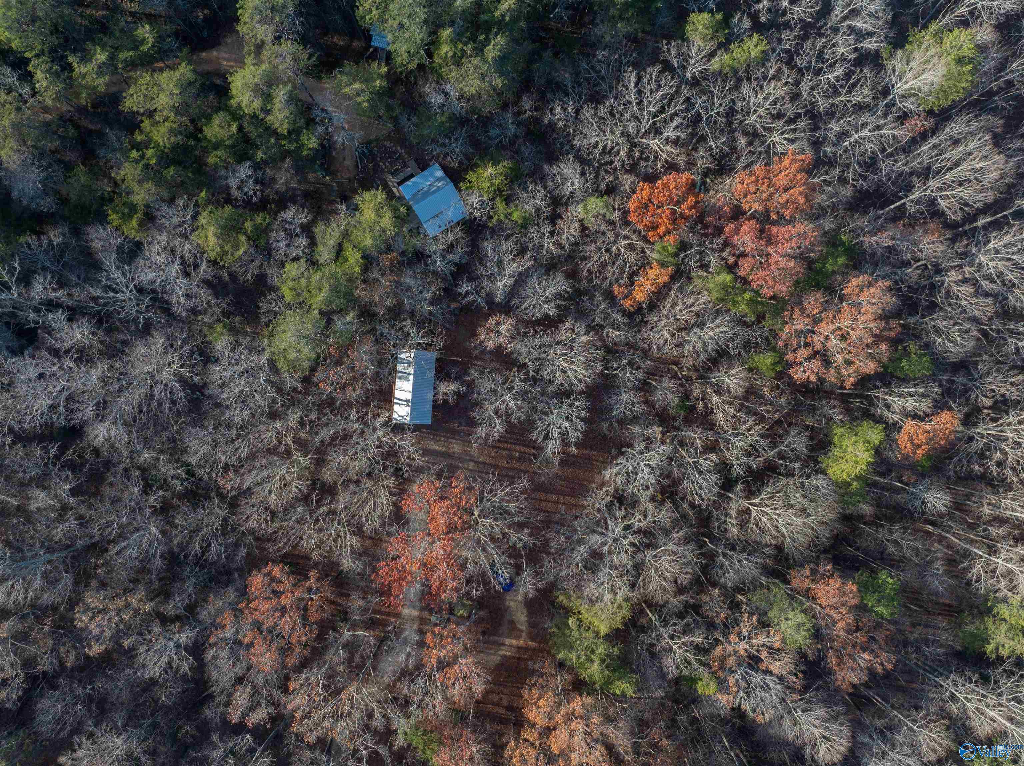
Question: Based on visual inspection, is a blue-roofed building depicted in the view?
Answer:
Yes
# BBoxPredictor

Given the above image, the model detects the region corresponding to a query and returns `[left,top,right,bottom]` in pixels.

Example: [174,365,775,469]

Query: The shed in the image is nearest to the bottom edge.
[392,349,437,424]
